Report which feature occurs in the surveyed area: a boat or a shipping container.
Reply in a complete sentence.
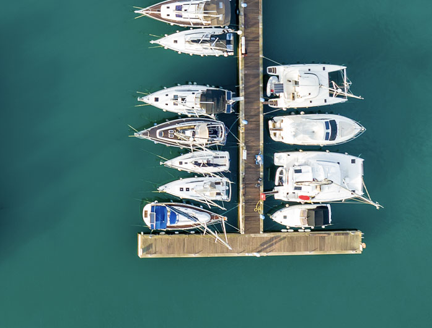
Of the two, only a boat appears.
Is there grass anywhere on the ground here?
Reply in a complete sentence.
No, the scene doesn't show any grass.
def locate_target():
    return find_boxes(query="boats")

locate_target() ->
[262,60,366,111]
[262,150,383,203]
[134,117,242,153]
[264,111,370,147]
[147,147,238,183]
[132,82,244,119]
[139,25,243,59]
[266,202,337,232]
[156,175,240,207]
[130,201,242,243]
[266,76,278,96]
[275,166,285,188]
[131,0,243,34]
